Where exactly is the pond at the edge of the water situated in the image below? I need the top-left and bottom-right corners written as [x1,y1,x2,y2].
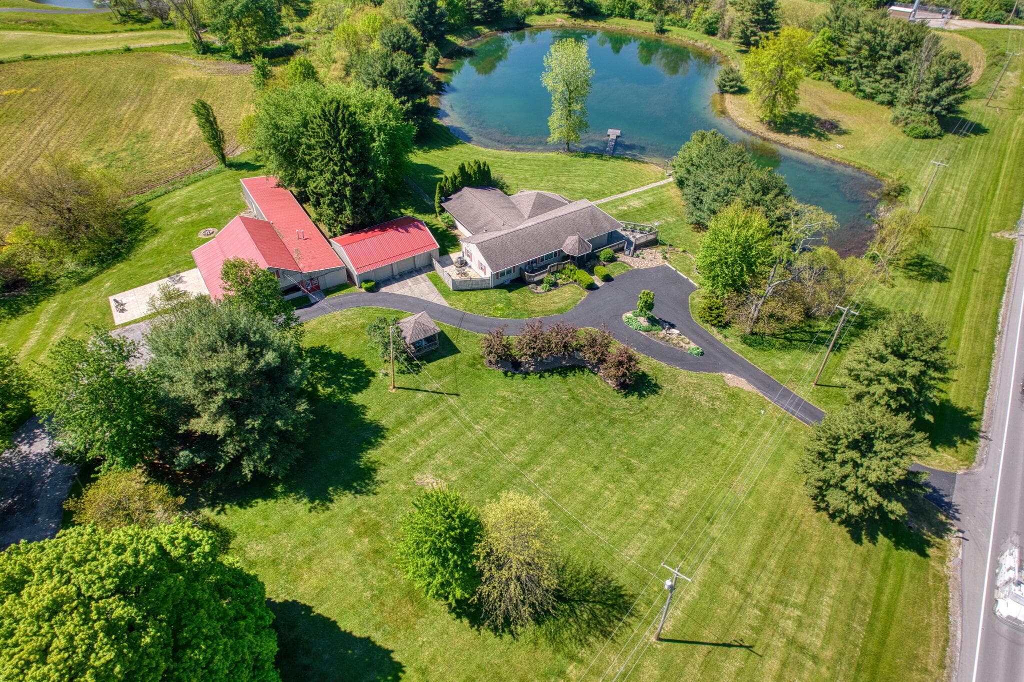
[469,37,829,215]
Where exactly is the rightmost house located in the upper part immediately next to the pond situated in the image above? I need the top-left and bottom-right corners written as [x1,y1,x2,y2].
[442,185,625,285]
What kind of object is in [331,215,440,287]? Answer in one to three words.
building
